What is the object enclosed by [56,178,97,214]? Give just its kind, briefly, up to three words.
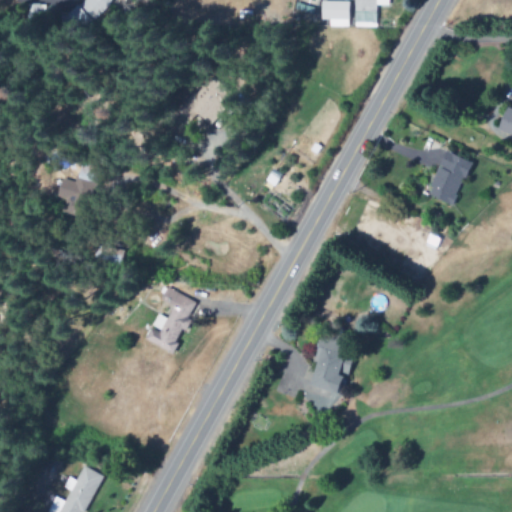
house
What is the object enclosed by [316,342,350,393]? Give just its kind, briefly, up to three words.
house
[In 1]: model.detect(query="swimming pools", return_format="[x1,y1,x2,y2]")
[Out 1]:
[369,293,387,311]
